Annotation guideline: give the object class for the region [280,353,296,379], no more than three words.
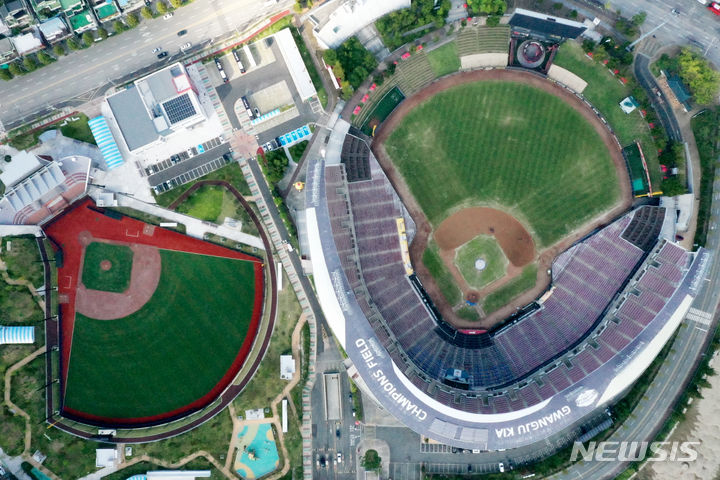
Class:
building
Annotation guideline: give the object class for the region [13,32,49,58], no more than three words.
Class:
house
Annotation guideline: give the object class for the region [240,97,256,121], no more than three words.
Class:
vehicle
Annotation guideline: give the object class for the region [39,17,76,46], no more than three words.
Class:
house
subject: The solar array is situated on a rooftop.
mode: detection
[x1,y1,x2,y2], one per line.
[162,93,196,124]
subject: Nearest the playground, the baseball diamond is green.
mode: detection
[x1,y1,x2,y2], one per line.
[47,198,262,423]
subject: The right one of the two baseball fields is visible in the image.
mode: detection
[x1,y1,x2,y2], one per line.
[371,70,641,337]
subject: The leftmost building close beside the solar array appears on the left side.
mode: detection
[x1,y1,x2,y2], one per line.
[107,84,170,155]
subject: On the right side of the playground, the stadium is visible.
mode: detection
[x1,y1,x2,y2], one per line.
[299,121,710,451]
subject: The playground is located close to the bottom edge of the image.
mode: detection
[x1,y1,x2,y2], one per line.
[234,423,279,479]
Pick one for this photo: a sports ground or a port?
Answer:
sports ground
